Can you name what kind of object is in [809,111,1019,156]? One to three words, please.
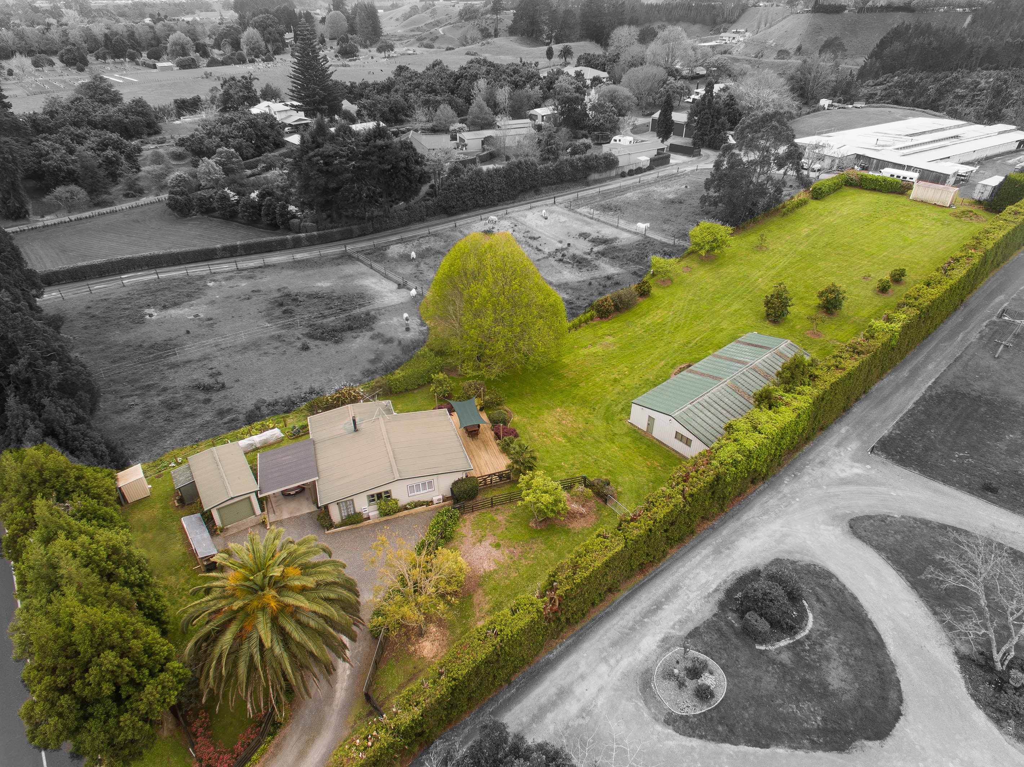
shed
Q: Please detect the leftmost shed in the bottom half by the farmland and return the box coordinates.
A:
[116,463,149,506]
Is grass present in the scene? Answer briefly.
Yes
